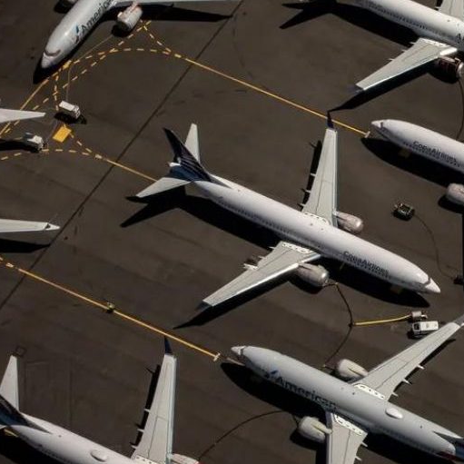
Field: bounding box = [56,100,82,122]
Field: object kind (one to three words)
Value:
truck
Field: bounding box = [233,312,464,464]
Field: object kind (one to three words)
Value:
airplane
